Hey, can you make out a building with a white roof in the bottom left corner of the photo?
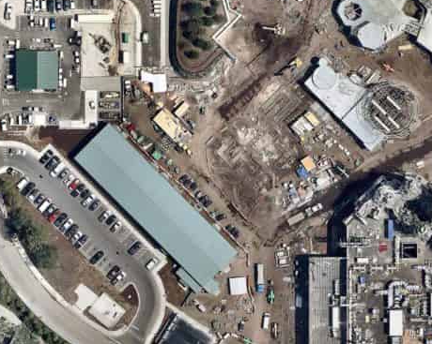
Yes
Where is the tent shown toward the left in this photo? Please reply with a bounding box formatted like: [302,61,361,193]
[141,70,167,92]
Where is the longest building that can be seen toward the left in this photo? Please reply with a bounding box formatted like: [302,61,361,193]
[73,126,235,293]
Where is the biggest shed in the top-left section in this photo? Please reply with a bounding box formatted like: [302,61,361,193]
[15,49,58,91]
